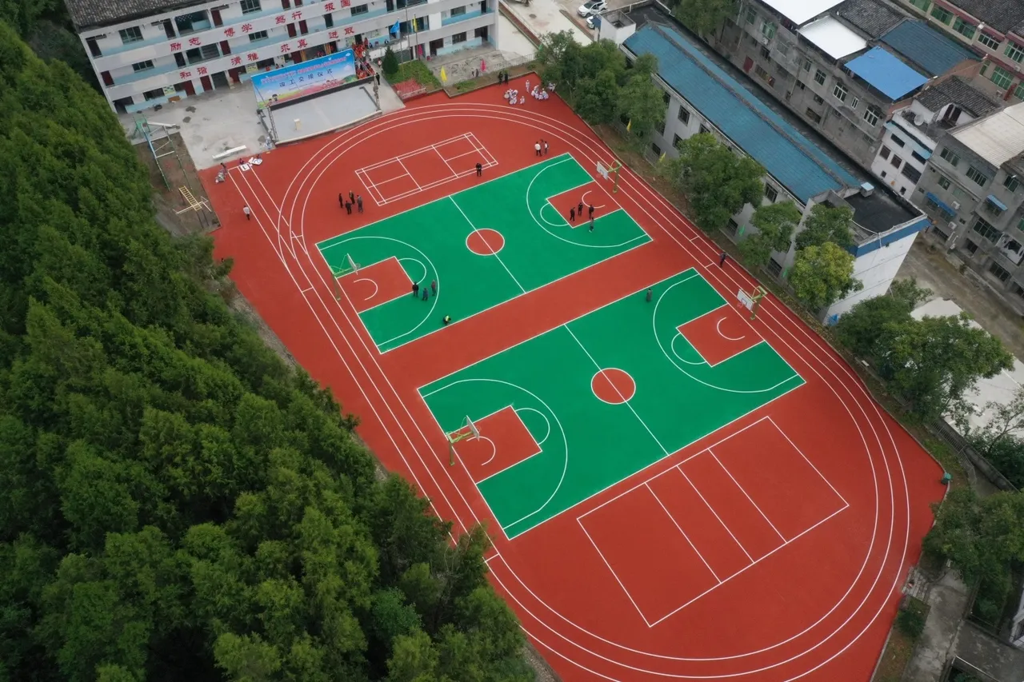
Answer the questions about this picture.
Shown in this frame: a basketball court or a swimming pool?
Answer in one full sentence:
This aerial view contains a basketball court.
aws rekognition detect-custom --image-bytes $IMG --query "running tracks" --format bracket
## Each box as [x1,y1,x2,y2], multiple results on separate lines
[198,73,945,682]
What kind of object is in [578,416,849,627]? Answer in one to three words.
sports court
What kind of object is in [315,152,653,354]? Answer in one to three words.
basketball court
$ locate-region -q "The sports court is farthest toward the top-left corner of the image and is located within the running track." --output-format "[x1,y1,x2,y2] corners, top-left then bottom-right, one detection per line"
[355,132,498,205]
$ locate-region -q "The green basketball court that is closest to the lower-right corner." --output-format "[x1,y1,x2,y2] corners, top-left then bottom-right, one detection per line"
[417,267,806,540]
